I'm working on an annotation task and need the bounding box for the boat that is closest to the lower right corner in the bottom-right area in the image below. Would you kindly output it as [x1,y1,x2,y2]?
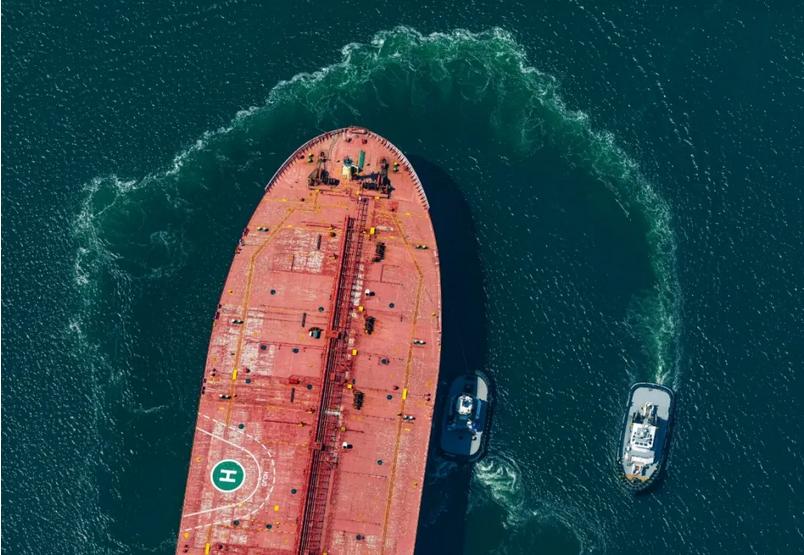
[619,383,675,491]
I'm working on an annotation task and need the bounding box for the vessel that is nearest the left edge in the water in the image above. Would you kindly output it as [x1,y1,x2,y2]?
[177,126,442,555]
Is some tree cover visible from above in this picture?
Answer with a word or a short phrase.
No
